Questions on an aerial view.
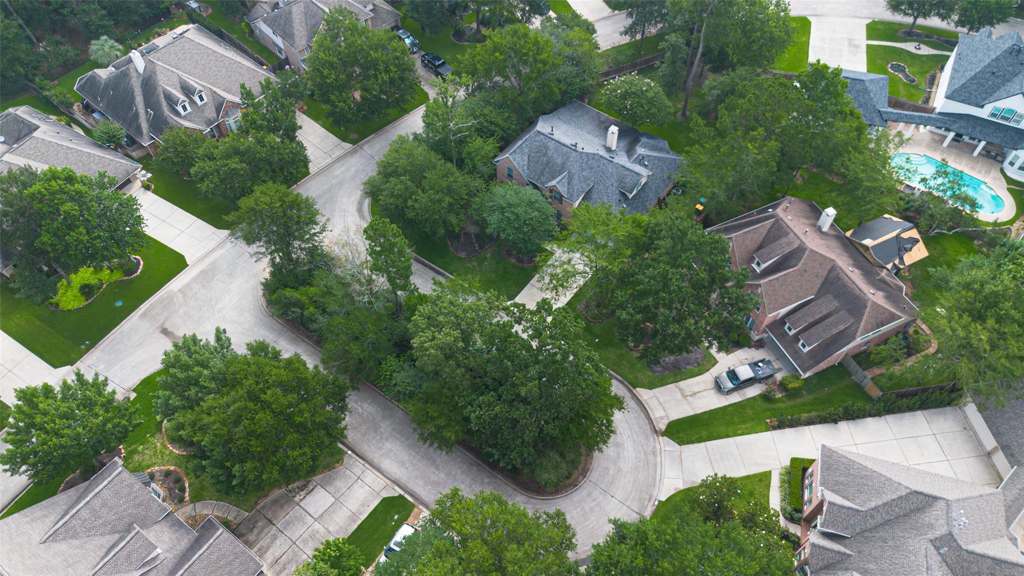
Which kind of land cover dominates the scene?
trees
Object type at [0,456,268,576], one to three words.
house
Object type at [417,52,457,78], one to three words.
truck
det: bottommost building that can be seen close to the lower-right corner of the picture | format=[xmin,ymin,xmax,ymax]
[796,442,1024,576]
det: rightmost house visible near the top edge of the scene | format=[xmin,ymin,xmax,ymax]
[880,13,1024,181]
